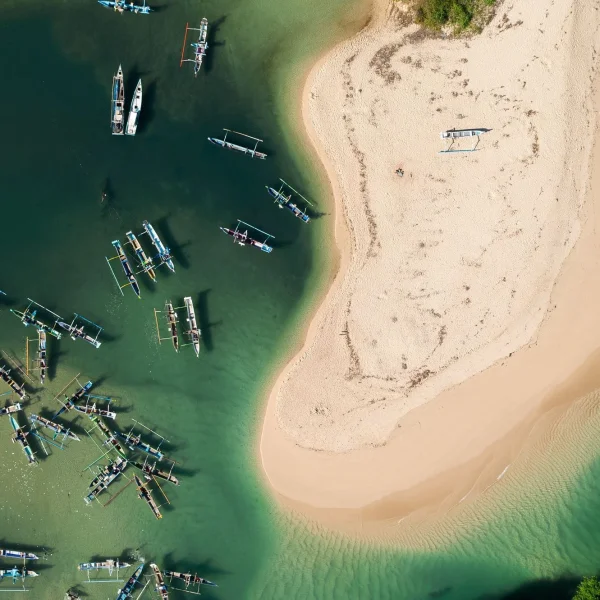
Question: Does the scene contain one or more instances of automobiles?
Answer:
No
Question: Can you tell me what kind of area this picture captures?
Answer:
beach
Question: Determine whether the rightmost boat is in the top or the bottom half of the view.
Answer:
top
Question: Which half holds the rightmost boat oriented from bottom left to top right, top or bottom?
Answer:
bottom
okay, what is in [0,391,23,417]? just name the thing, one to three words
boat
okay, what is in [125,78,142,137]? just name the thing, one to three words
boat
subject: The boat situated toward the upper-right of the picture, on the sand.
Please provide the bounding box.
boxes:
[438,130,486,153]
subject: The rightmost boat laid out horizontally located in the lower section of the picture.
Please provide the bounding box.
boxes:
[163,570,219,595]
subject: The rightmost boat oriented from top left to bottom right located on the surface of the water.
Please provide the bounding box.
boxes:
[265,179,313,224]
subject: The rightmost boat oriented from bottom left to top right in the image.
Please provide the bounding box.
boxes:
[117,564,149,600]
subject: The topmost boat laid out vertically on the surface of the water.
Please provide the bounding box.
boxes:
[180,16,208,78]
